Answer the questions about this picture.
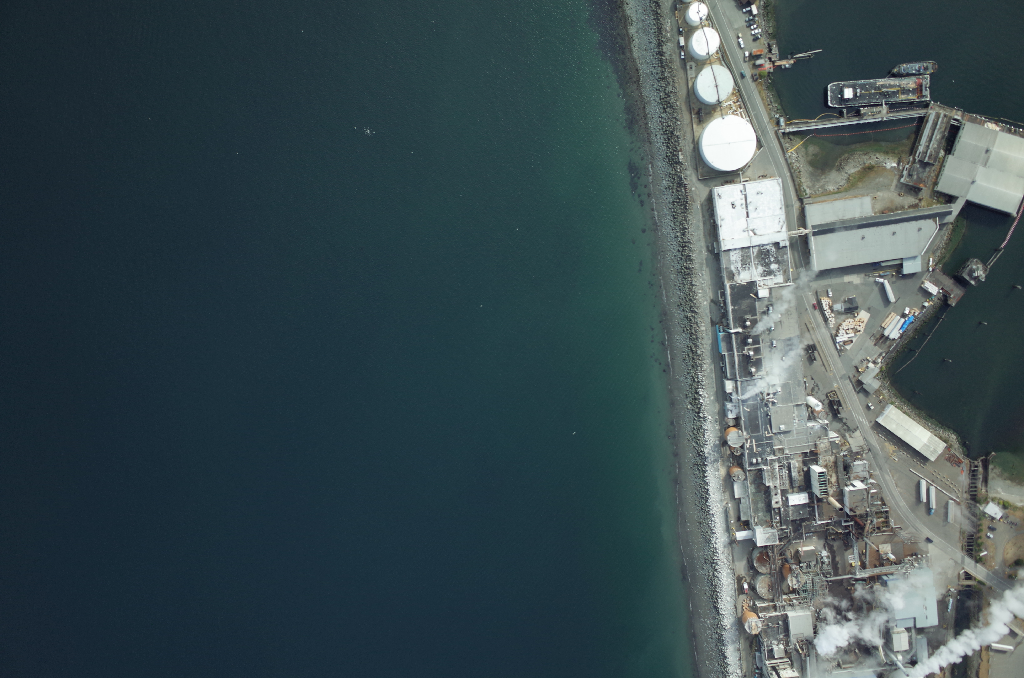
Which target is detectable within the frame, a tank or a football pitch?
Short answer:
tank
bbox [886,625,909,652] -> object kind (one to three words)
house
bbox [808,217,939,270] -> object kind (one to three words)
building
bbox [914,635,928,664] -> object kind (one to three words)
shed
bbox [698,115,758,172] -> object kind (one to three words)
storage tank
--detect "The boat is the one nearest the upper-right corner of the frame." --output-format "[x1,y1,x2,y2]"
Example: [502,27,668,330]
[892,61,938,75]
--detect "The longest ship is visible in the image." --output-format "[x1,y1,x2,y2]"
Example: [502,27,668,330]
[826,75,930,107]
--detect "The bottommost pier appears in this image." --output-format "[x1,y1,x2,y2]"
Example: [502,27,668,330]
[927,269,966,307]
